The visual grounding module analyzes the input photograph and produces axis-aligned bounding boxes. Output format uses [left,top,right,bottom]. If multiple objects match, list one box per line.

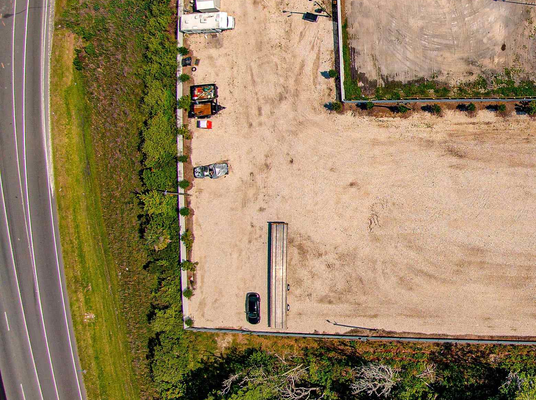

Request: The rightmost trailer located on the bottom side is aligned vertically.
[271,223,291,330]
